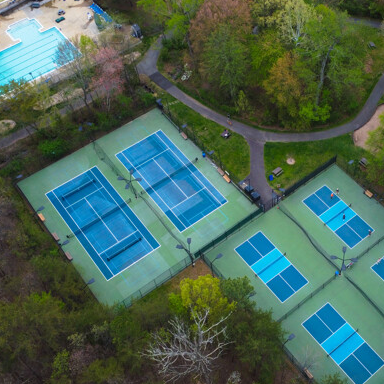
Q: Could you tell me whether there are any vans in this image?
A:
No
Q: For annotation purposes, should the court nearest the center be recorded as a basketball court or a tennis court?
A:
tennis court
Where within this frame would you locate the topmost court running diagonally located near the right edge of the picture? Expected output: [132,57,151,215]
[303,185,374,248]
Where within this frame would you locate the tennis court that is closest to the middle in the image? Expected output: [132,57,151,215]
[115,128,228,235]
